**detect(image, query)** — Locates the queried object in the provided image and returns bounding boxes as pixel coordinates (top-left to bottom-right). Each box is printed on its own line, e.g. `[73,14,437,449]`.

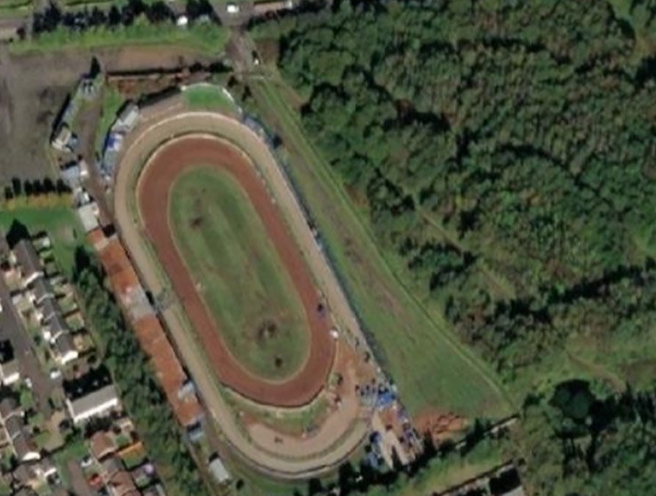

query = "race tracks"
[114,110,384,474]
